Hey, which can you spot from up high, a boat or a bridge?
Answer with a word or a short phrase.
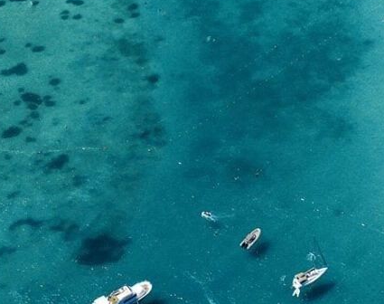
boat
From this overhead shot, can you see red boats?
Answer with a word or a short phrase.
No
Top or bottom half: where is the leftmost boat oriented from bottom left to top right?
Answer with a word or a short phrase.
bottom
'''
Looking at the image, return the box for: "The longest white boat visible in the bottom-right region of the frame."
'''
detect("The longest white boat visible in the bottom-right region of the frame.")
[291,233,326,290]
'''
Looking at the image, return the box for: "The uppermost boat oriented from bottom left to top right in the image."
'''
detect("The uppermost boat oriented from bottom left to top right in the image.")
[237,228,261,250]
